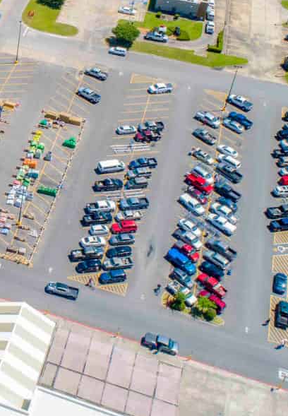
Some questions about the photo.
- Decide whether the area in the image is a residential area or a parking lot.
parking lot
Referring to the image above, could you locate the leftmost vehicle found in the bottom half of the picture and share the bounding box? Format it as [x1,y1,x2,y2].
[45,282,79,302]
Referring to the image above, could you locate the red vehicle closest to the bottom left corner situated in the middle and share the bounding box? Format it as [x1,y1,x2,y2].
[110,220,138,235]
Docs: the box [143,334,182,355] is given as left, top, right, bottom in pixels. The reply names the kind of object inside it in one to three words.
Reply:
vehicle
